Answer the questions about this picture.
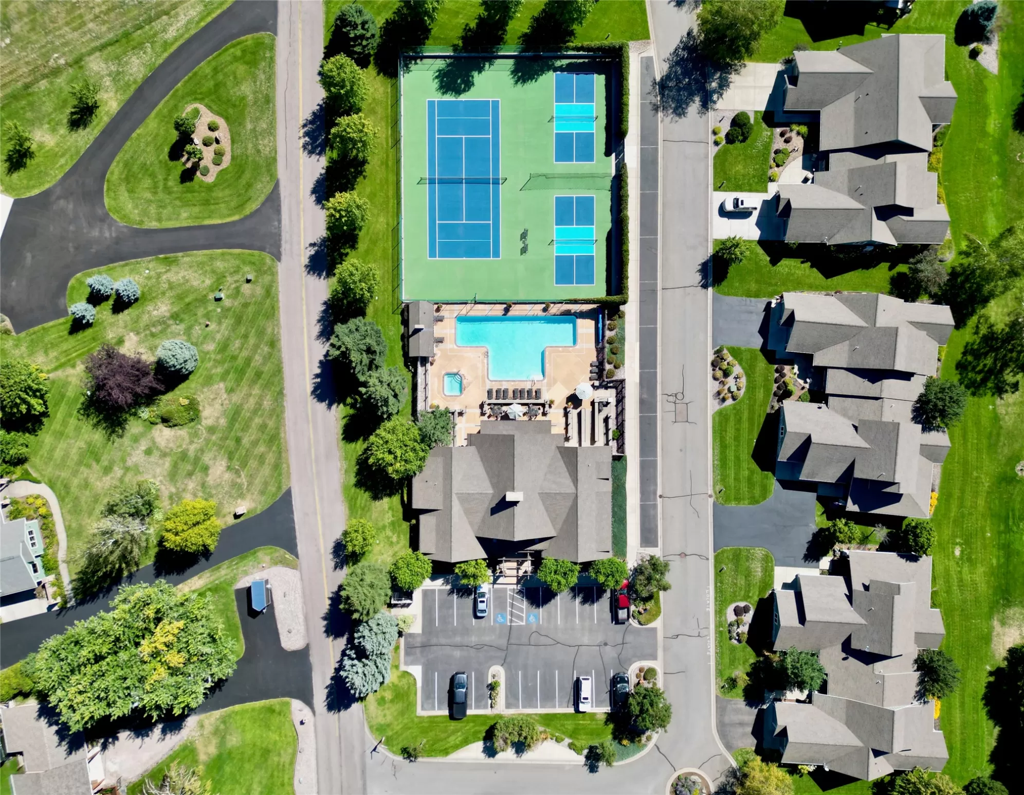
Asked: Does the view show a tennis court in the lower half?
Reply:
No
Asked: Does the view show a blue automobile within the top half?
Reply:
No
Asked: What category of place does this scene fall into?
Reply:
residential area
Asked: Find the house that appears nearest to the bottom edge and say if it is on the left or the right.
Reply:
left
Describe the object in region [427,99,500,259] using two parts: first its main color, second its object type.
blue tennis court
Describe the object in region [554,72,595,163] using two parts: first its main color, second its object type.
blue sports court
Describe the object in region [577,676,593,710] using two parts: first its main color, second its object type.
white car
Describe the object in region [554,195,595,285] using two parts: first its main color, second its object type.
blue sports court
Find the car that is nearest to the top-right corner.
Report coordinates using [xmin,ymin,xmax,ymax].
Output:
[722,197,757,213]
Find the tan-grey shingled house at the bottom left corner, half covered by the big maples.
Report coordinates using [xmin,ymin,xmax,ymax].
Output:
[1,697,99,795]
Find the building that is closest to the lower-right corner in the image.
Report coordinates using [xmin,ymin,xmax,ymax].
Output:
[768,549,949,781]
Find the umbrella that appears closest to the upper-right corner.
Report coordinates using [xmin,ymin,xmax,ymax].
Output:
[576,383,592,399]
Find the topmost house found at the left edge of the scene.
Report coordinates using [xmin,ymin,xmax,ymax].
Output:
[0,518,48,598]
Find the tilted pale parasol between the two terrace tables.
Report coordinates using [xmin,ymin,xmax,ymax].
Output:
[506,403,522,419]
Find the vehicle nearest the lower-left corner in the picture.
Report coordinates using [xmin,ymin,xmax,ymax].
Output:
[452,672,469,716]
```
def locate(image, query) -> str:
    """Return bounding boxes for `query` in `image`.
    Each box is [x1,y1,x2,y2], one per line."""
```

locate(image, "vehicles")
[615,578,631,621]
[577,676,593,710]
[722,197,757,213]
[613,673,628,708]
[452,672,469,716]
[475,583,490,616]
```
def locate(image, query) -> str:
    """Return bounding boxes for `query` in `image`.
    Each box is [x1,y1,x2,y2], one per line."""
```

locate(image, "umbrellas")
[576,383,592,399]
[506,403,522,419]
